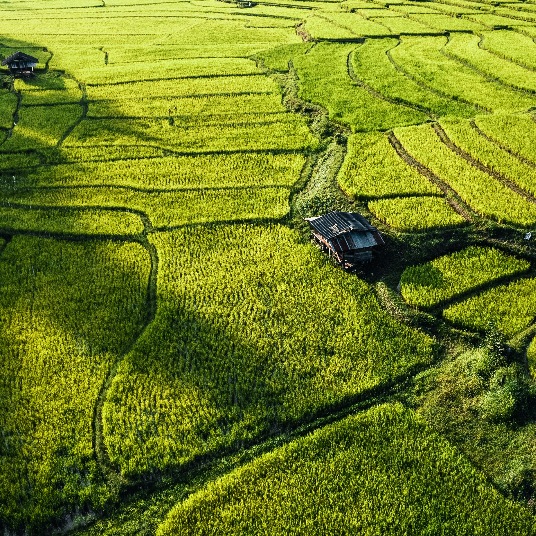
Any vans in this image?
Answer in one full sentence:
No, there's no van here.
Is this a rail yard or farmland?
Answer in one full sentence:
The picture captures farmland.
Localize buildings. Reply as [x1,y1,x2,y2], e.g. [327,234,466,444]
[1,50,45,79]
[297,210,385,266]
